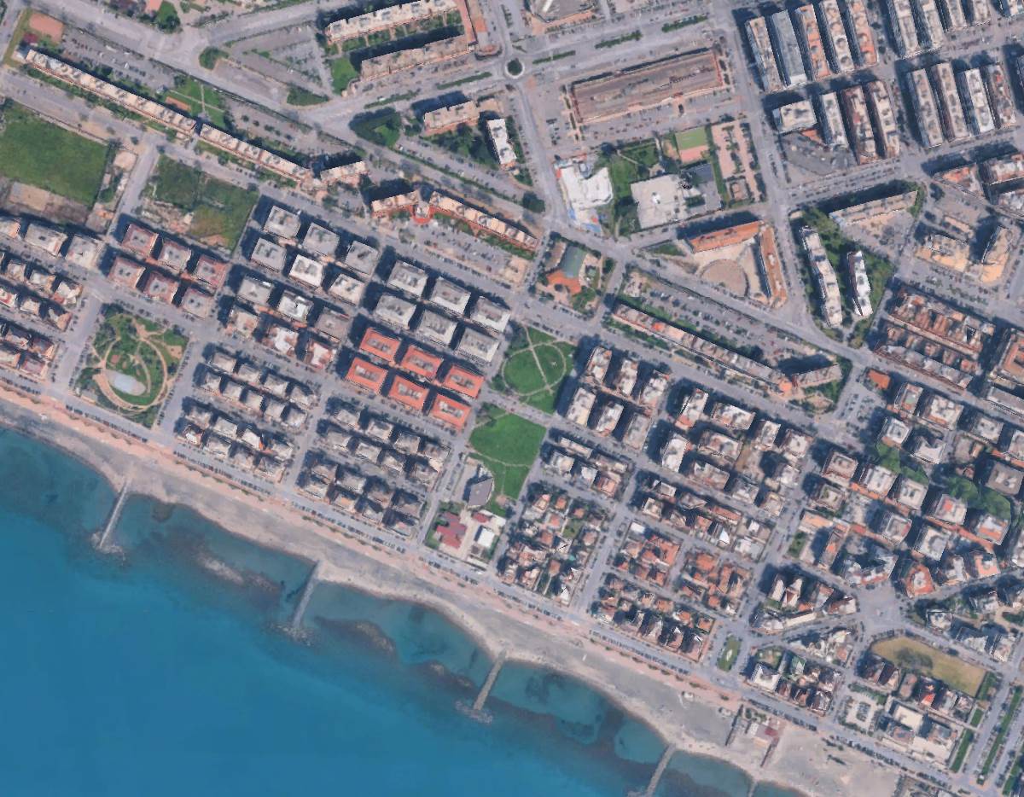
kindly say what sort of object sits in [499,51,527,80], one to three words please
roundabout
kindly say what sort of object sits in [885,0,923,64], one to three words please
building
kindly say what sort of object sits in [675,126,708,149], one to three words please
sports court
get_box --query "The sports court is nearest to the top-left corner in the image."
[30,13,63,42]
